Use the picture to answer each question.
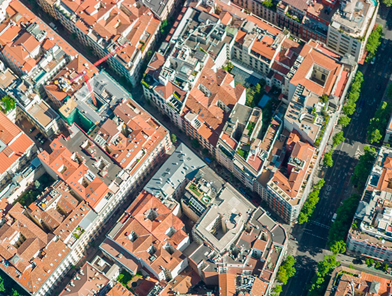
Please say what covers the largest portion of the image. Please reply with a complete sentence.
Most of the picture is covered by buildings.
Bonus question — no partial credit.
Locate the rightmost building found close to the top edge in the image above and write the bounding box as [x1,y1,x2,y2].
[324,0,379,60]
